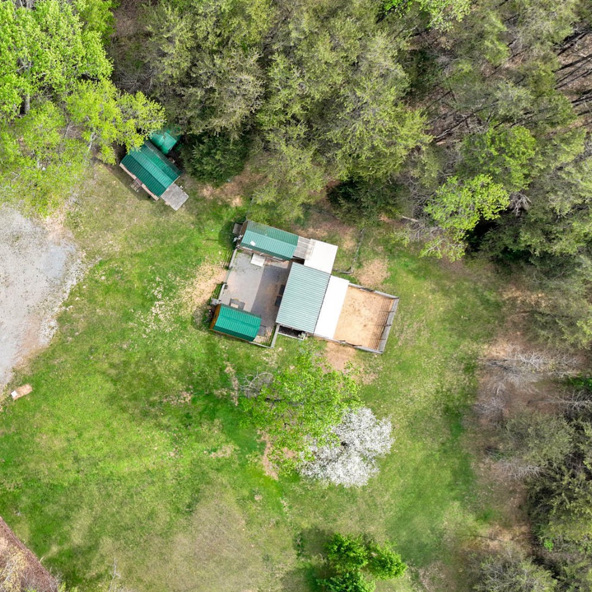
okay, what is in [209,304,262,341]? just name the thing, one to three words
shed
